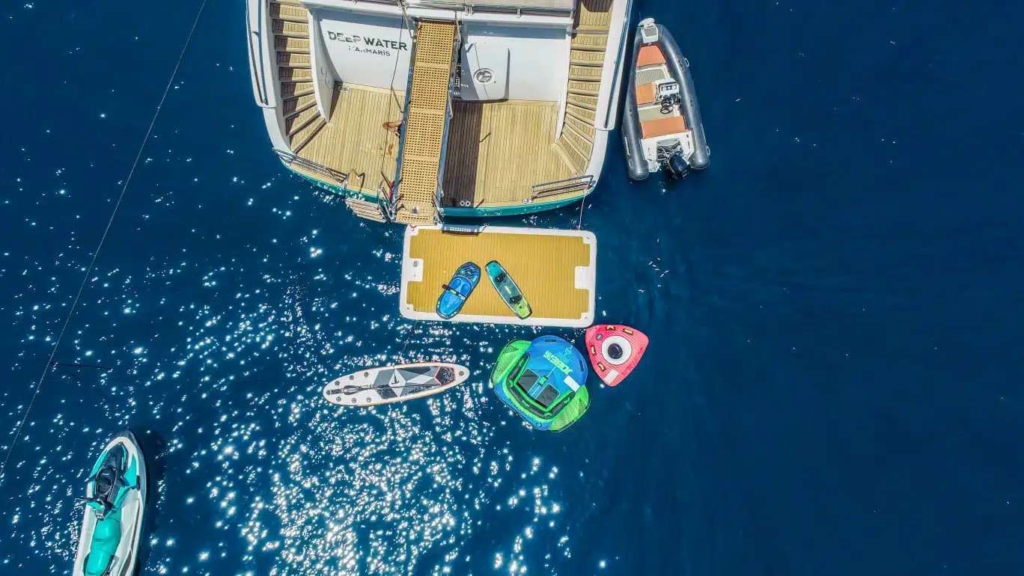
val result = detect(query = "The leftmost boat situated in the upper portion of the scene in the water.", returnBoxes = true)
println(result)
[249,0,632,233]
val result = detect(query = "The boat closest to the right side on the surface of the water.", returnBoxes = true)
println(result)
[615,15,713,186]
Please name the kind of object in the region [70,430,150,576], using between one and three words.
boat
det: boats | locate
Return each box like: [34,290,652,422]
[249,0,632,233]
[615,15,713,186]
[70,430,150,576]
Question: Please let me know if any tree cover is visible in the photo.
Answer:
No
